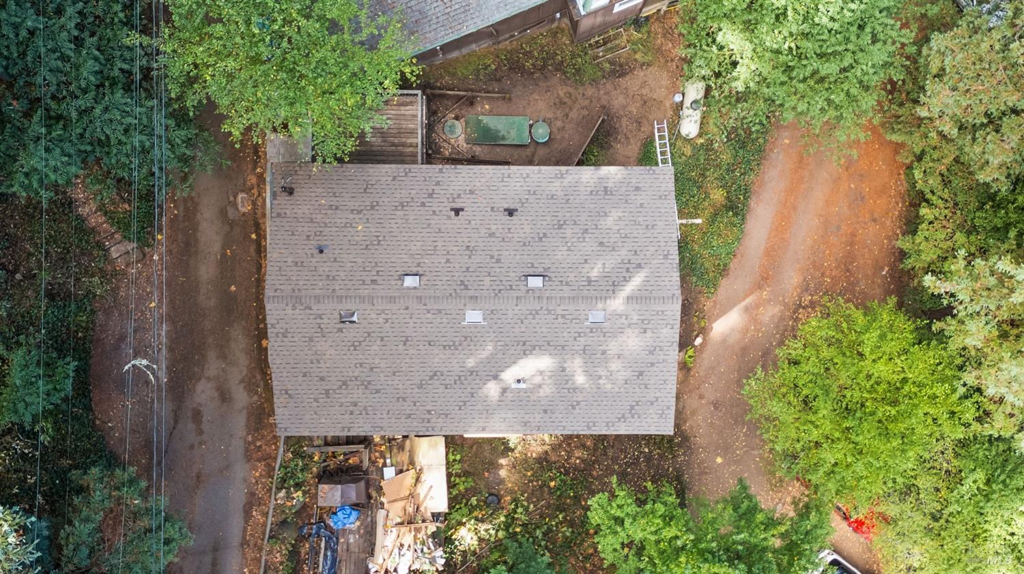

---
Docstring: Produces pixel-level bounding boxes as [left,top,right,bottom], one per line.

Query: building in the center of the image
[263,164,682,437]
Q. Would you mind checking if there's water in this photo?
No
